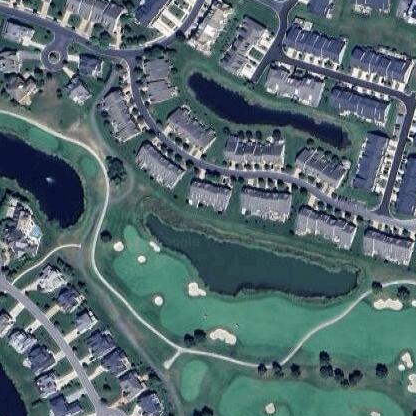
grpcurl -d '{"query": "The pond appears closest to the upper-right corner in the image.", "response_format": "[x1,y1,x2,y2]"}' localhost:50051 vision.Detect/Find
[187,71,353,147]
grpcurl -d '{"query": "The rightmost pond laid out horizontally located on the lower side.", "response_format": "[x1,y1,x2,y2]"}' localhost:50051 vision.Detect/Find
[146,216,360,299]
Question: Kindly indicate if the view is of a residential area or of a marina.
residential area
